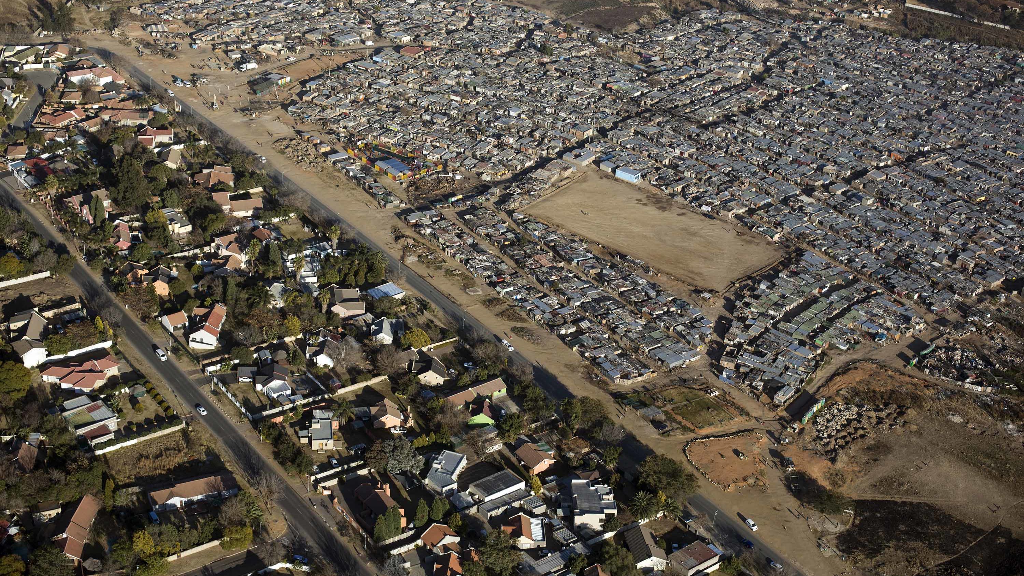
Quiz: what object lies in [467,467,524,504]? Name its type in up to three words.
building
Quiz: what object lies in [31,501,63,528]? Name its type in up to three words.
house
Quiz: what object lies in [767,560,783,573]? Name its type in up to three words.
vehicle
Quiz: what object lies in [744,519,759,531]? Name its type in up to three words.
vehicle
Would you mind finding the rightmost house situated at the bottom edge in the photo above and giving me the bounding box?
[667,537,728,576]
